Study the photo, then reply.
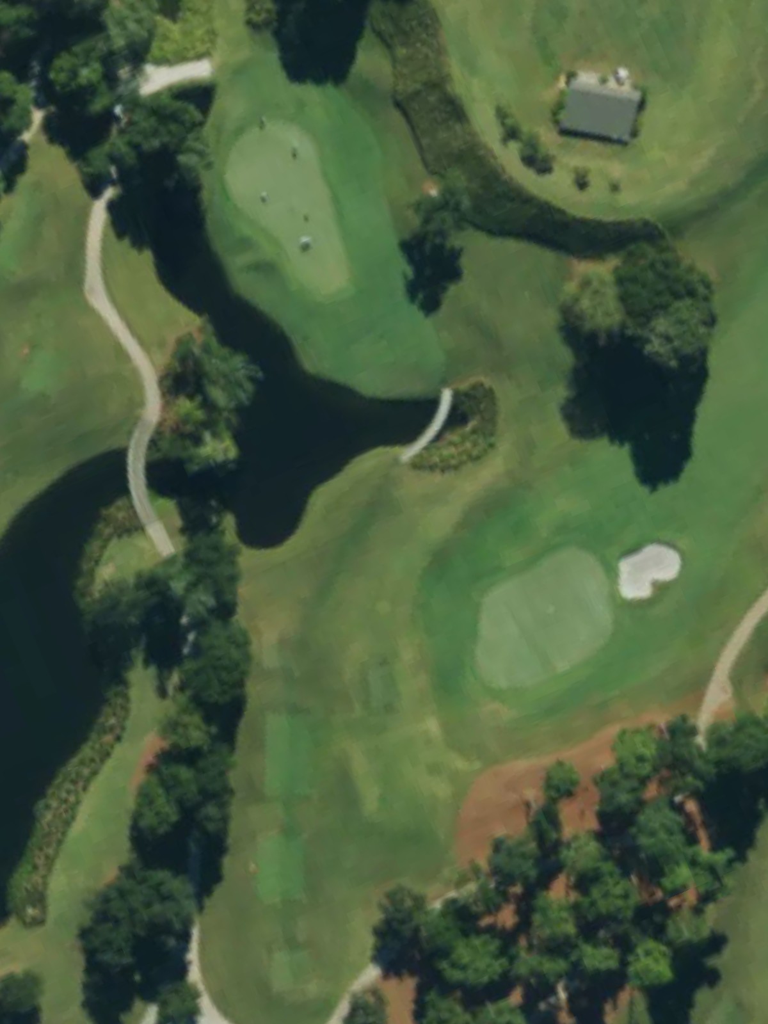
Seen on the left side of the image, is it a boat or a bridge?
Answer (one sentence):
The feature located on the left side of the image is a bridge.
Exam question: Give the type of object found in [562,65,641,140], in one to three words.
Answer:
shed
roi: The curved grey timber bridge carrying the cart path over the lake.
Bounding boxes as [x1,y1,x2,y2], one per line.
[127,413,163,533]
